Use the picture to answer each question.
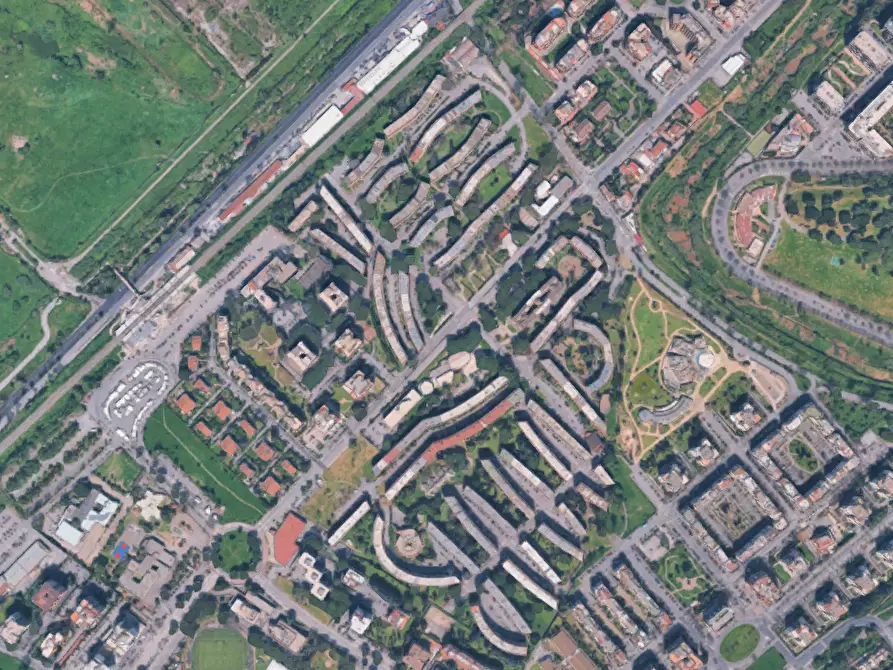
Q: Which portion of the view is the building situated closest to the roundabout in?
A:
bottom right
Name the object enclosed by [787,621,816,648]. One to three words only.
house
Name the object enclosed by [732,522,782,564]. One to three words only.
building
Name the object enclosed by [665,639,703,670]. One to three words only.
building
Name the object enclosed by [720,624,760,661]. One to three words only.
roundabout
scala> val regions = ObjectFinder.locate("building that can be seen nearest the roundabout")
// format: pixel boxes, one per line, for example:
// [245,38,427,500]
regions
[707,604,734,632]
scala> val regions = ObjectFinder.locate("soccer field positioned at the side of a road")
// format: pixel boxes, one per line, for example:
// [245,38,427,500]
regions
[186,623,254,670]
